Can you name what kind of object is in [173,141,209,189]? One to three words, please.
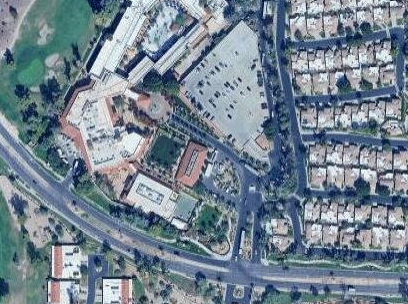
building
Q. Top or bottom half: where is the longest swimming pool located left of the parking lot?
top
